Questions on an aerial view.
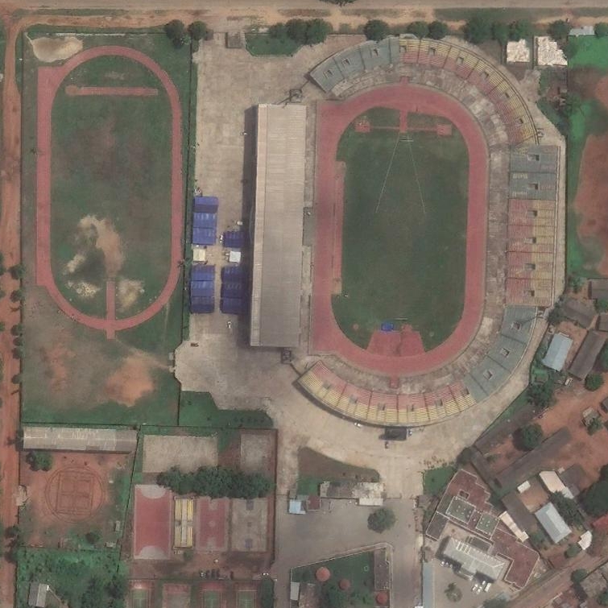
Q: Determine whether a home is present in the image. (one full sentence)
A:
Yes, a home can be made out from above.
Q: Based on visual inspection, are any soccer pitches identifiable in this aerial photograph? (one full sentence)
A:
Yes, the picture does show a soccer pitch.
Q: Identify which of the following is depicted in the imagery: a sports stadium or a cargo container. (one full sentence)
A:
Of the two, only a sports stadium appears.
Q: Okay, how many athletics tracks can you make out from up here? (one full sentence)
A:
The picture shows 2 athletics tracks.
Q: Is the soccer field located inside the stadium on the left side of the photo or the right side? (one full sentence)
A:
It is on the right.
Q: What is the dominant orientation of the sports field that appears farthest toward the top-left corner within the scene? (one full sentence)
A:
Seen from above, the sports field that appears farthest toward the top-left corner lies from top to bottom.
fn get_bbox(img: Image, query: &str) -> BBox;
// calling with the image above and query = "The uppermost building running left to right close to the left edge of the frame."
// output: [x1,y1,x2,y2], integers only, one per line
[22,427,136,453]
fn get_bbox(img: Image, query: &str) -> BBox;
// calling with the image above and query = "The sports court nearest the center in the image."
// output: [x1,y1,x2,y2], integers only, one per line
[241,434,275,473]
